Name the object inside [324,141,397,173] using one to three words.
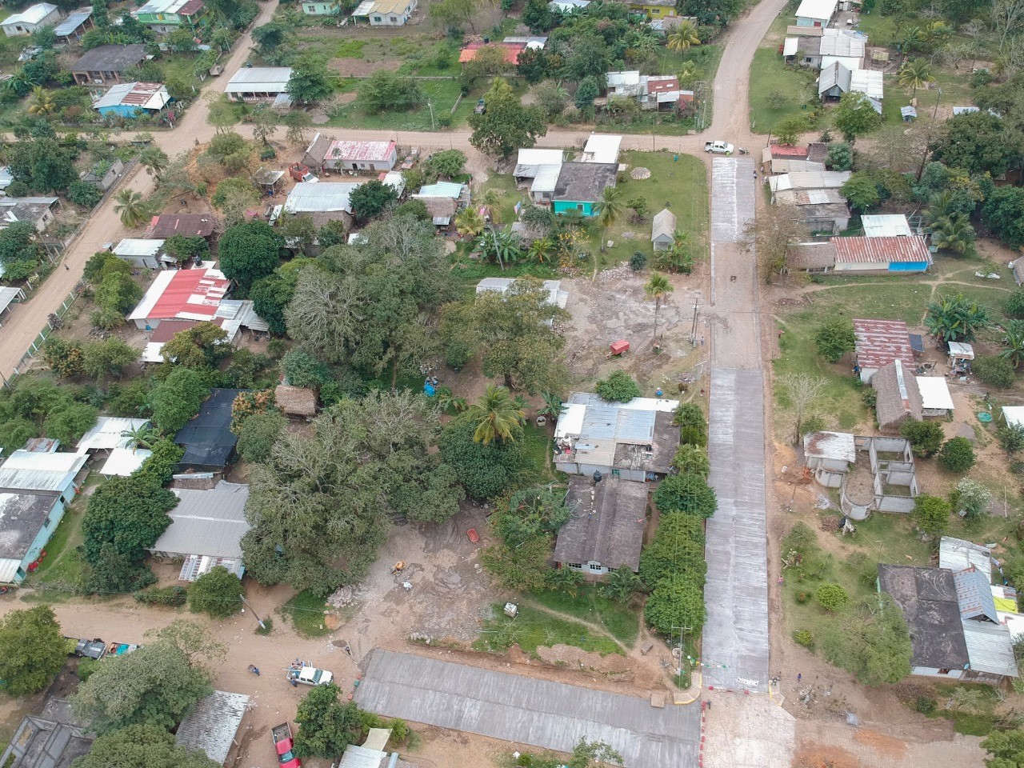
house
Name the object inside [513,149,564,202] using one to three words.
house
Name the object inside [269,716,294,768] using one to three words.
truck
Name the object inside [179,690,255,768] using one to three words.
shed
